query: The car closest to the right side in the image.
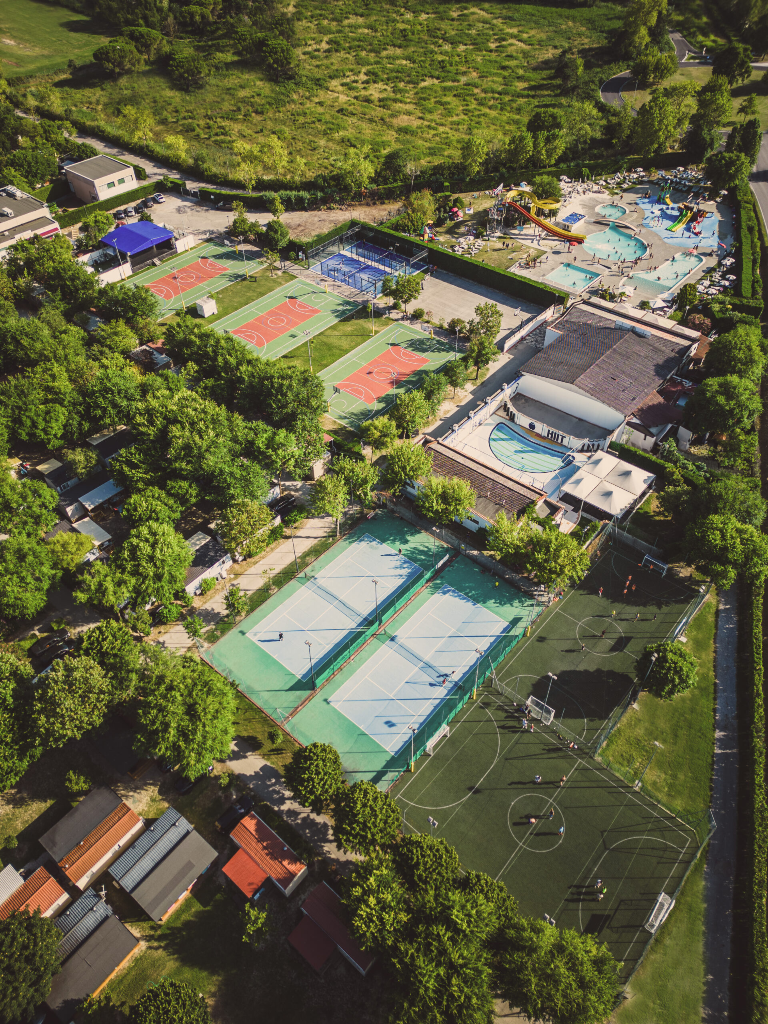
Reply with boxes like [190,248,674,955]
[404,424,426,439]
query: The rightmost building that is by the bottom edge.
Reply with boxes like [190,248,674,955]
[288,882,384,977]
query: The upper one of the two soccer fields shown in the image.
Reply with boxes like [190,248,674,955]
[489,529,703,752]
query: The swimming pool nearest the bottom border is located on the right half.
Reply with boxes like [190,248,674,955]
[488,421,576,474]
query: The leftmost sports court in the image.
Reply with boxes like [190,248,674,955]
[117,241,268,320]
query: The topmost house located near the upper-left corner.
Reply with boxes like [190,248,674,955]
[63,154,139,200]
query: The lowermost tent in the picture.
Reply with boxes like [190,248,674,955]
[558,449,656,532]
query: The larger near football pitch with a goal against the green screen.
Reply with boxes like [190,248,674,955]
[388,678,699,1004]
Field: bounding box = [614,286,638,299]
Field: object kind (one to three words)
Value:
umbrella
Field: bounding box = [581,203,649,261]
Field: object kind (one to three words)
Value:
swimming pool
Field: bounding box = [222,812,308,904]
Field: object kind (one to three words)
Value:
building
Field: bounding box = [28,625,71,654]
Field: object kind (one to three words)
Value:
vehicle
